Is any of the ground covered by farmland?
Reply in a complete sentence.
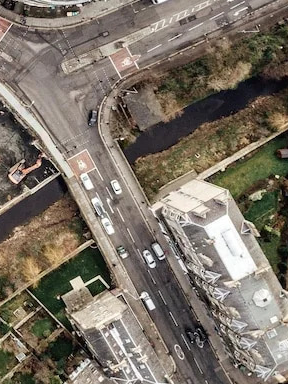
No, no farmland is visible.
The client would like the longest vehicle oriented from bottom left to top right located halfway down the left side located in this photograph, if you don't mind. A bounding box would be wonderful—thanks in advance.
[7,148,50,186]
